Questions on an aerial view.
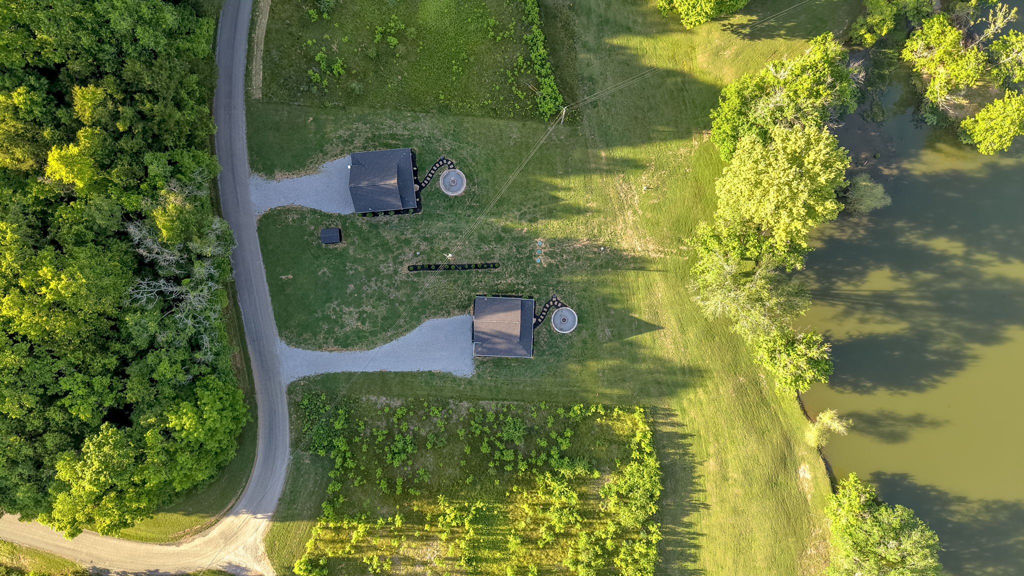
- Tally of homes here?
2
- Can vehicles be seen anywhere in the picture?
No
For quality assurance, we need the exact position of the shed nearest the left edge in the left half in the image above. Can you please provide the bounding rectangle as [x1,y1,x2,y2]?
[320,229,343,244]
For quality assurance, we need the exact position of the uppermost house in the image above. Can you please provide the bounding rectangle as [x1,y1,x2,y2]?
[346,147,417,213]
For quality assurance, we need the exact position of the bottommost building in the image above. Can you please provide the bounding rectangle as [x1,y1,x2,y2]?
[473,295,535,359]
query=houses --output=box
[346,147,417,213]
[473,295,535,359]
